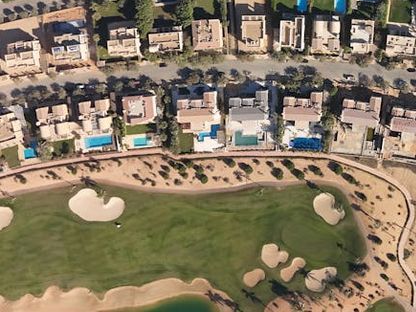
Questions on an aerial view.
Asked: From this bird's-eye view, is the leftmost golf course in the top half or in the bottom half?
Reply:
bottom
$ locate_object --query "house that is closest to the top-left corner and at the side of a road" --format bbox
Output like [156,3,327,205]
[5,39,44,75]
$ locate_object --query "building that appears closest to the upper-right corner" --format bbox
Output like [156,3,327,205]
[387,34,416,56]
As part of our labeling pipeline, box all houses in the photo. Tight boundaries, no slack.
[228,91,271,129]
[177,92,219,130]
[80,98,115,132]
[53,30,93,67]
[0,109,27,140]
[387,34,416,56]
[109,27,143,56]
[341,95,383,132]
[389,106,416,141]
[350,20,375,53]
[283,91,324,129]
[279,16,307,49]
[312,15,341,54]
[5,39,44,75]
[242,15,267,47]
[192,19,224,51]
[37,103,72,138]
[121,94,158,124]
[149,30,185,51]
